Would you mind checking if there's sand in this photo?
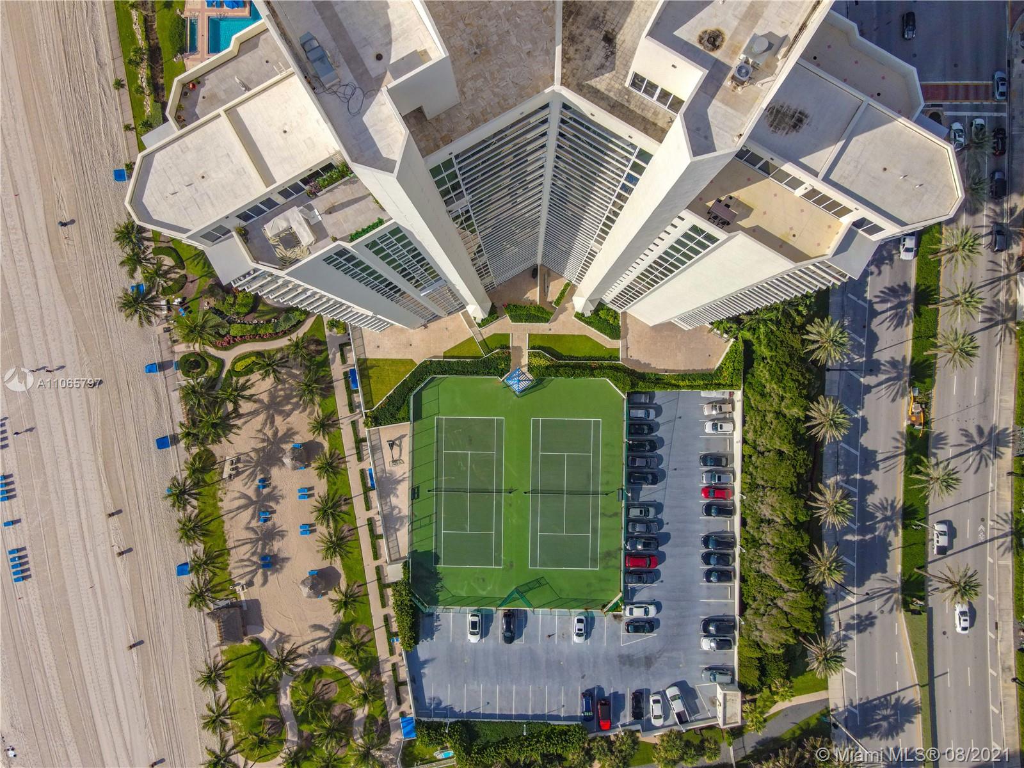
Yes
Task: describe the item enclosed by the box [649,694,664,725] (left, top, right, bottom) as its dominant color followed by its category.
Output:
white car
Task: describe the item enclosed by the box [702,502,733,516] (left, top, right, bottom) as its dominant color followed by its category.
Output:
black car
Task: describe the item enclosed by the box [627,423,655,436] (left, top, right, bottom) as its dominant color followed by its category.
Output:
black vehicle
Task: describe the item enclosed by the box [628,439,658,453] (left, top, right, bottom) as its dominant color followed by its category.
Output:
black car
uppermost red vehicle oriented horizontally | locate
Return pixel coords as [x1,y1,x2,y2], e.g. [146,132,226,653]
[701,486,732,500]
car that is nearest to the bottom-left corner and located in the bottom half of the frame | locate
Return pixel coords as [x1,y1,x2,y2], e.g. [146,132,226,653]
[467,611,481,642]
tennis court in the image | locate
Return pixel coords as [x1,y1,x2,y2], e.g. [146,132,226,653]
[409,376,625,611]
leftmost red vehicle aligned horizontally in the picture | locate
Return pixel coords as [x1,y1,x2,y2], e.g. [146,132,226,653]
[626,554,657,569]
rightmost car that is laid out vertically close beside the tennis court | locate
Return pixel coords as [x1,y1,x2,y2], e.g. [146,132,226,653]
[573,613,587,643]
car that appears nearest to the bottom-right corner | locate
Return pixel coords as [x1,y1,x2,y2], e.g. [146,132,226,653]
[953,602,970,633]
